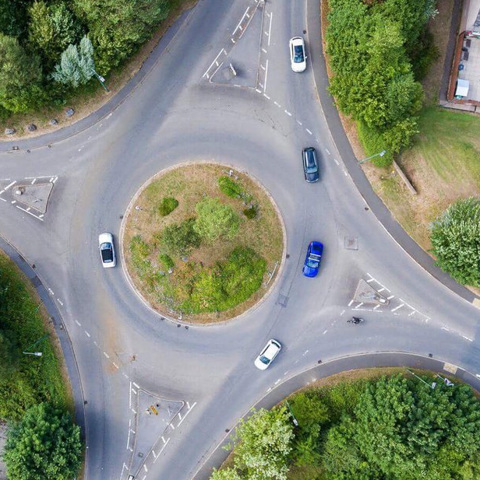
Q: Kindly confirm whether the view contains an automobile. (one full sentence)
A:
Yes, an automobile appears in the view.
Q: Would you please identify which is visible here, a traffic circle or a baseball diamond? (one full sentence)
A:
Of the two, only a traffic circle appears.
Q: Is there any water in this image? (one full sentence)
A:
No, the picture contains no water.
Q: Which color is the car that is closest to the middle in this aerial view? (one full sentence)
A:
The color of the car that is closest to the middle is blue.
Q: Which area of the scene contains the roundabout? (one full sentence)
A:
You can find the roundabout in the center area of the picture.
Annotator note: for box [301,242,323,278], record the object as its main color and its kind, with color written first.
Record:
blue car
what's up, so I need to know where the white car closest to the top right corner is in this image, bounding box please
[289,36,307,73]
